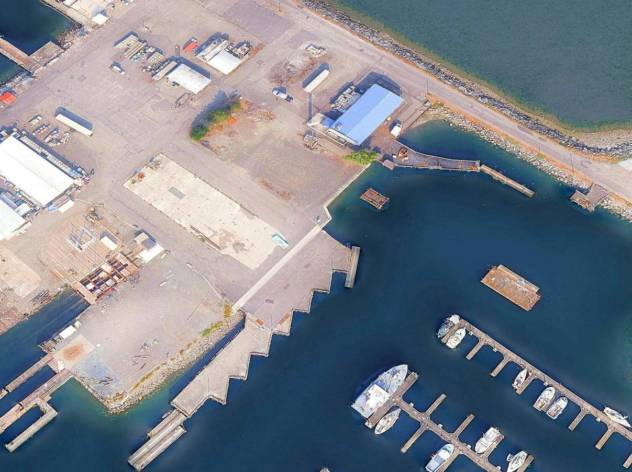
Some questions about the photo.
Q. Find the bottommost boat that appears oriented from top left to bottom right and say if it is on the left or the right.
right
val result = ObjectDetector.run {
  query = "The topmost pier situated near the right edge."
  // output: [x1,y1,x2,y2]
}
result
[570,184,610,211]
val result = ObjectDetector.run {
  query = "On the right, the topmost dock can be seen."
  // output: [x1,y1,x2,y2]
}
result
[376,140,479,172]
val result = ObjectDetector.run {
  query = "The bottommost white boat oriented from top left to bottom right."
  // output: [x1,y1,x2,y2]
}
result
[603,407,631,428]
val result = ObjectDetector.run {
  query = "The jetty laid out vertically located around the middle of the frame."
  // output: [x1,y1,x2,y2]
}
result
[345,246,361,288]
